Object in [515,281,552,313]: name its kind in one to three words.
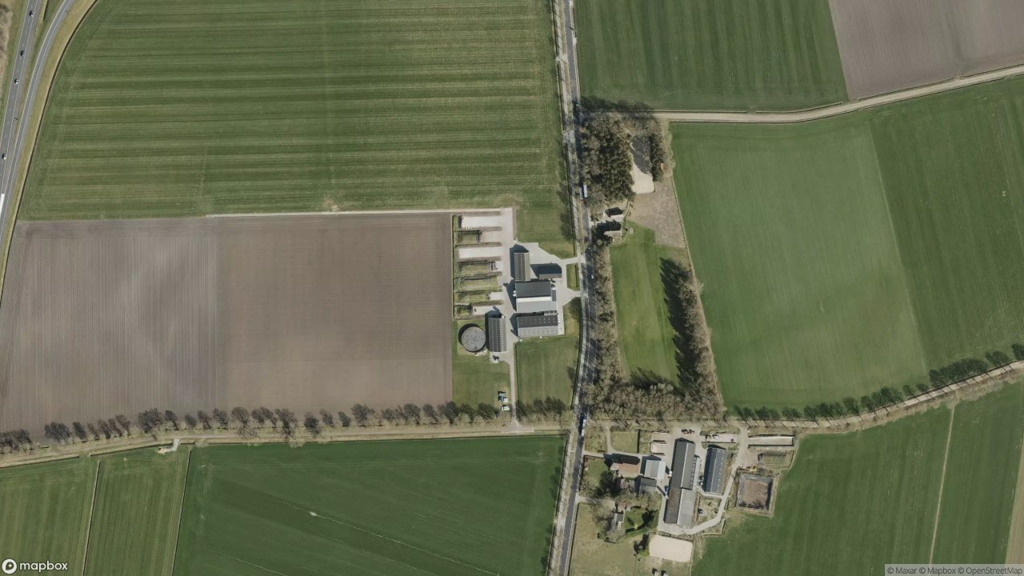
barn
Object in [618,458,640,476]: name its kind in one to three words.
house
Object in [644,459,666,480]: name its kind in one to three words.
shed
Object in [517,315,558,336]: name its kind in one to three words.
barn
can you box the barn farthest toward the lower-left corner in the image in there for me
[489,317,506,352]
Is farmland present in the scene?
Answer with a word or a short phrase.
Yes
